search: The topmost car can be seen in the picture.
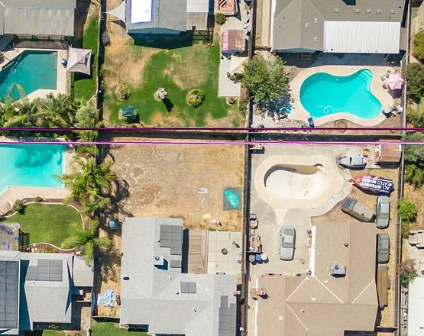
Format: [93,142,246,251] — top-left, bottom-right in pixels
[336,151,366,168]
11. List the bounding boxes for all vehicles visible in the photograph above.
[377,234,392,264]
[279,225,296,261]
[374,196,392,230]
[338,196,377,222]
[336,151,366,168]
